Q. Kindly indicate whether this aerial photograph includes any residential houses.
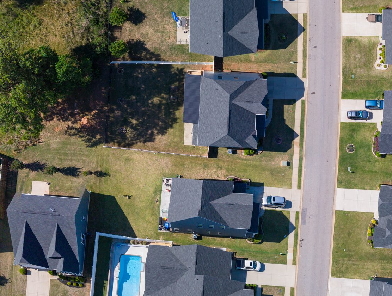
Yes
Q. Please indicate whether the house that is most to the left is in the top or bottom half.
bottom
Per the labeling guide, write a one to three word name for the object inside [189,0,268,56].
house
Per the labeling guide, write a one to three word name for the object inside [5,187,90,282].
house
